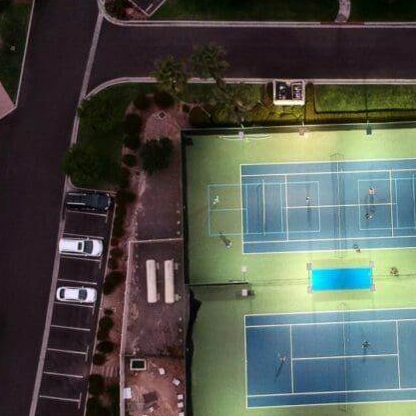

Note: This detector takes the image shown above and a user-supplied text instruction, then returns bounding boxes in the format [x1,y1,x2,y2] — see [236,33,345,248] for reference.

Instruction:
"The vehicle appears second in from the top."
[58,236,104,257]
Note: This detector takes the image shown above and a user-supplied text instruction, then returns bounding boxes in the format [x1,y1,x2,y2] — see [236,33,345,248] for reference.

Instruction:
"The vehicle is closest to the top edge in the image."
[66,192,113,213]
